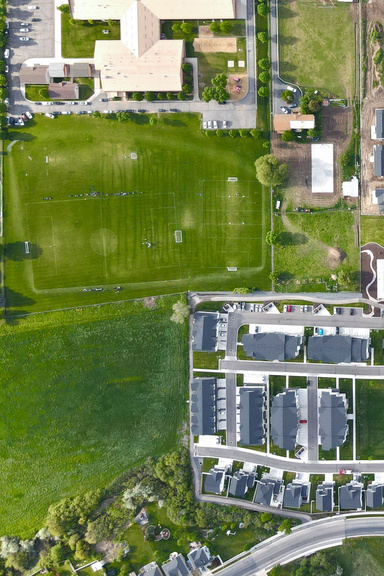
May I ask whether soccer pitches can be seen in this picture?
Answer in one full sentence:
Yes, a soccer pitch is visible in the scene.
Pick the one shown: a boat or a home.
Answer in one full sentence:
I can see a home in this picture.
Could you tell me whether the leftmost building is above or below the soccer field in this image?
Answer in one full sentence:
You can see the leftmost building above the soccer field in the frame.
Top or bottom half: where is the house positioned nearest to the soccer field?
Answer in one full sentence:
It is in the top half that the house positioned nearest to the soccer field appears.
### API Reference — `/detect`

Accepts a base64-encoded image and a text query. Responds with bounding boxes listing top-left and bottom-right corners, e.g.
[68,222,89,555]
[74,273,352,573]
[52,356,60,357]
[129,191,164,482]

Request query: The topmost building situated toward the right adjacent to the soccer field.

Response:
[273,114,316,134]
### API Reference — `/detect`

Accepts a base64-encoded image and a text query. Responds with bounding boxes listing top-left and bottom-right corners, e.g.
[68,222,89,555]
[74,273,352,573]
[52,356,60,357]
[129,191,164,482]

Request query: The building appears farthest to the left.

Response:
[18,65,52,85]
